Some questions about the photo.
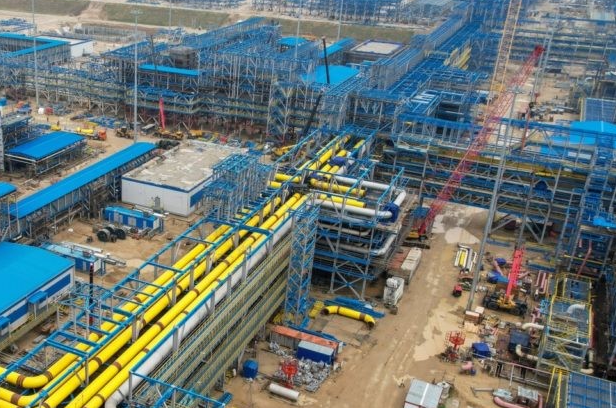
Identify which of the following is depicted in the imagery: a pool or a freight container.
freight container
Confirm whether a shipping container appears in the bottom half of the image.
Yes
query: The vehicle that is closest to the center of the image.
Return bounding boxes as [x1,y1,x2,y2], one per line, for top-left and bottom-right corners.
[254,142,277,155]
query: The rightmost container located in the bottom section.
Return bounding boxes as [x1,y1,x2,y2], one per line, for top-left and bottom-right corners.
[397,250,425,281]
